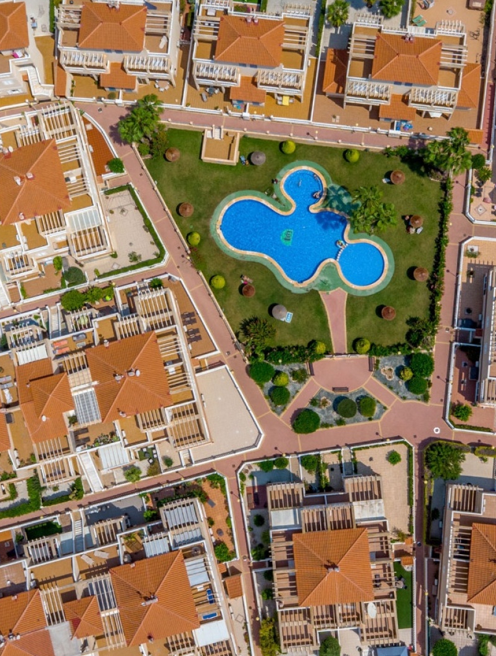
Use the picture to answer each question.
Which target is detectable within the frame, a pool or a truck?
pool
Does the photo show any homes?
Yes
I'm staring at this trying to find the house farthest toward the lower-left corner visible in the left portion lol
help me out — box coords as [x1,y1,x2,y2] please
[0,497,243,656]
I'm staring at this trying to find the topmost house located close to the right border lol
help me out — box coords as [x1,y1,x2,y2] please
[323,13,482,125]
